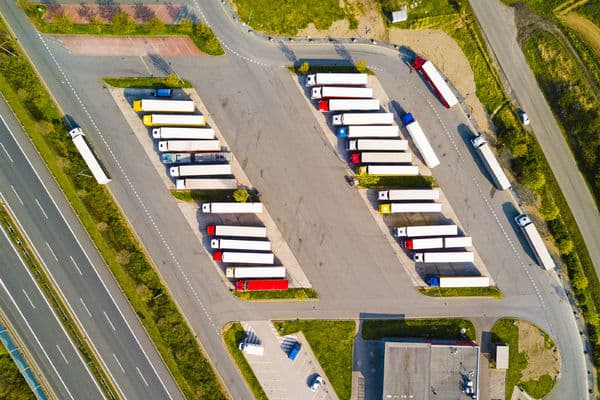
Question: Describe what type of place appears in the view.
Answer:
parking lot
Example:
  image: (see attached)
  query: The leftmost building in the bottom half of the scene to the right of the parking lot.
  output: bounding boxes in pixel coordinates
[384,340,432,400]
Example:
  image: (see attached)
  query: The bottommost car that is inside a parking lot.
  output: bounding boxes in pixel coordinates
[309,373,323,391]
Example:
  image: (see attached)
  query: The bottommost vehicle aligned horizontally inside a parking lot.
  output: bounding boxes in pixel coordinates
[240,341,265,355]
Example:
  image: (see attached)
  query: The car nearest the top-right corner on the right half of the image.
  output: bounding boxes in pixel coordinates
[518,111,530,127]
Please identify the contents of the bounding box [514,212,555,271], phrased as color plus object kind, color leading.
white truck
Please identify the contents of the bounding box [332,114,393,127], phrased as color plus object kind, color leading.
white vehicle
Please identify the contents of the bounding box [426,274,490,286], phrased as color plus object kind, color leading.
white vehicle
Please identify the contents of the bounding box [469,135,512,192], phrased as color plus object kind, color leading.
white truck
